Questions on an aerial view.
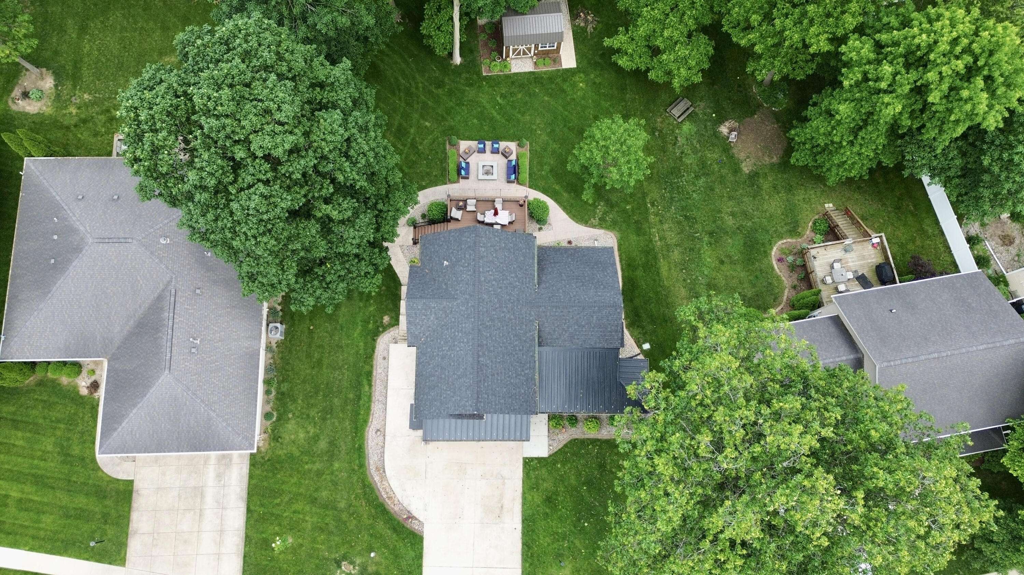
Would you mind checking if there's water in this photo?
No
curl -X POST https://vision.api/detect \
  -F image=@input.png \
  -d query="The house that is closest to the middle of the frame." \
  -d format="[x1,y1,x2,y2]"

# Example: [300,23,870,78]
[406,226,651,444]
